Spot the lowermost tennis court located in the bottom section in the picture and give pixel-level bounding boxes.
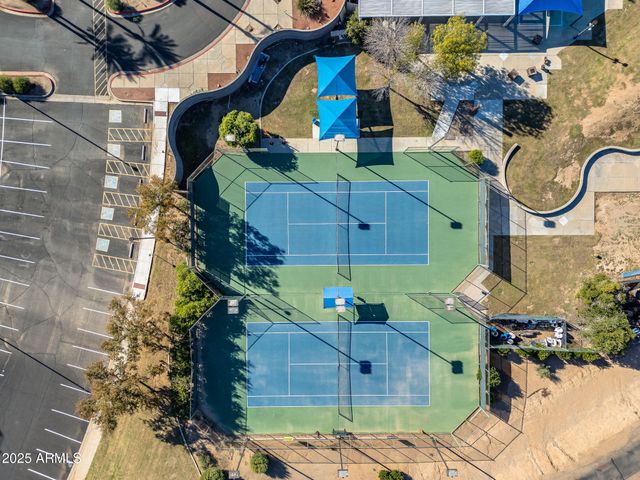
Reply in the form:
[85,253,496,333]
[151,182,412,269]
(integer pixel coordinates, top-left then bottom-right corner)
[198,293,479,436]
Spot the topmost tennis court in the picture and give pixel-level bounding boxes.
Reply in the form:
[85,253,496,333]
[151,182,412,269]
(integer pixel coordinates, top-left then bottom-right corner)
[196,152,478,294]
